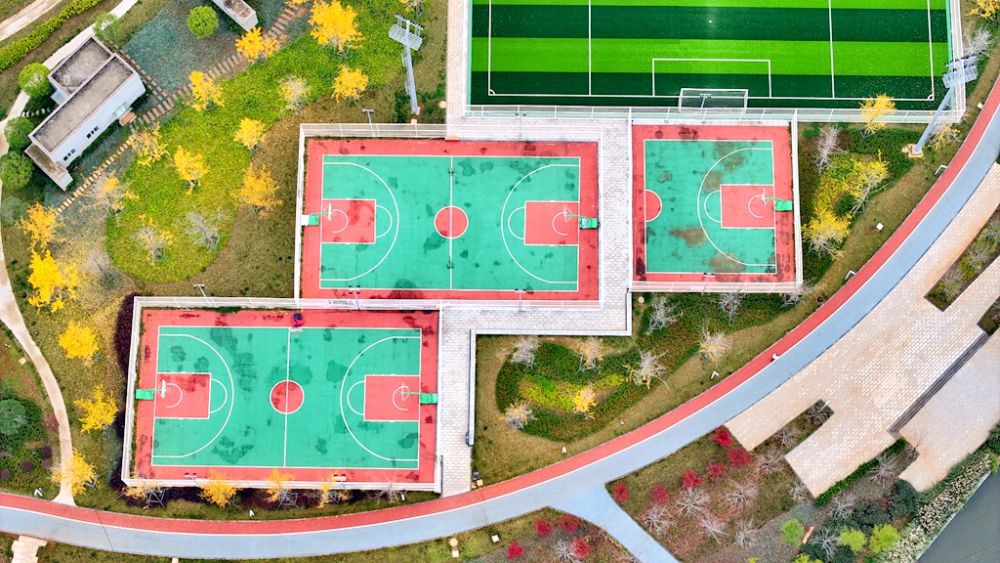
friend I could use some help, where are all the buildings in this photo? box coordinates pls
[208,0,258,27]
[25,37,146,187]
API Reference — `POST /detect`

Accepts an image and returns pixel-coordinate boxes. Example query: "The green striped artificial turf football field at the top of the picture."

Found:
[467,0,957,120]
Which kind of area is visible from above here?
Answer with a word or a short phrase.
sports ground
